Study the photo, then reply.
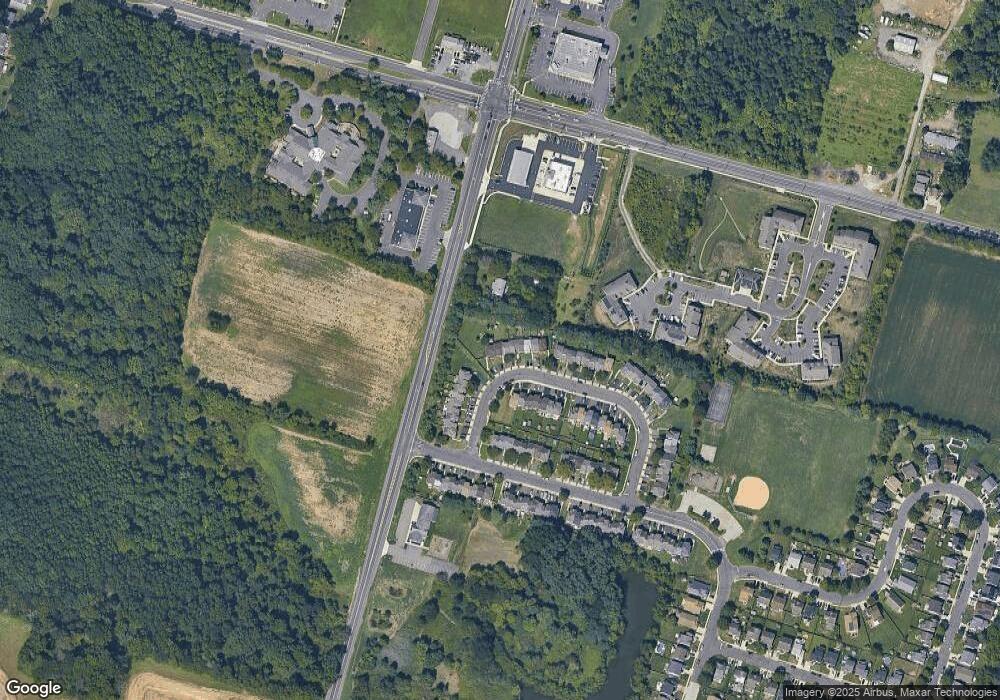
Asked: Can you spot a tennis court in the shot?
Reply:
Yes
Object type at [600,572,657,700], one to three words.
pond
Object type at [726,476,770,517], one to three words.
baseball field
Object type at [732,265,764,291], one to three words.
building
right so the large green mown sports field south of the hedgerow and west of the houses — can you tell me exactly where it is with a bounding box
[717,387,881,535]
